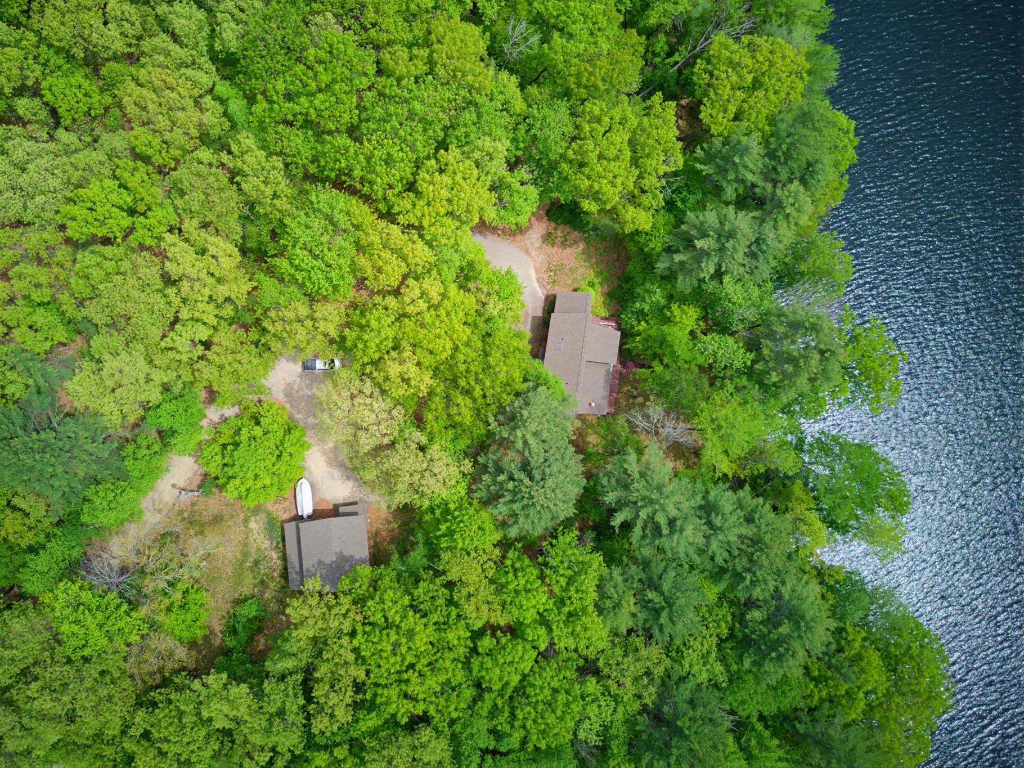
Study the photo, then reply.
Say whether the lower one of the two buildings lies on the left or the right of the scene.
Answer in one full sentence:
The lower one of the two buildings appears in the left half of the scene.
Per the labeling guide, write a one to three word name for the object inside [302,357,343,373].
vehicle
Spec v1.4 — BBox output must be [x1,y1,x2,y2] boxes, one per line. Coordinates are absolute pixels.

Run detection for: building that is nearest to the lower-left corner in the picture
[284,502,375,592]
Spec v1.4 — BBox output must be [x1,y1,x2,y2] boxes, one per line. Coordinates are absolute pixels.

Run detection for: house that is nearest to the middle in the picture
[541,292,622,415]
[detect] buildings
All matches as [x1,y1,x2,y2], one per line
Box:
[284,502,375,592]
[541,292,622,415]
